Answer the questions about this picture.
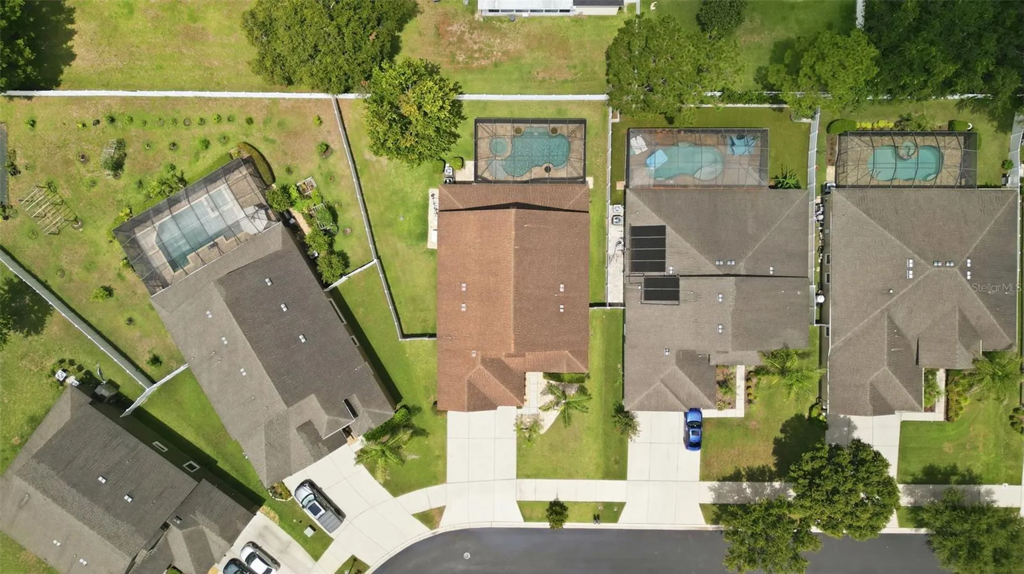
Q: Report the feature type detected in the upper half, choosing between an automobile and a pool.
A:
pool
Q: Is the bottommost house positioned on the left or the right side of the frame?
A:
left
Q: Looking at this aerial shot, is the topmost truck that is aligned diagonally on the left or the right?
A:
left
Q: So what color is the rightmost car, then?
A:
blue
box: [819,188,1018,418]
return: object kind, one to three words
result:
house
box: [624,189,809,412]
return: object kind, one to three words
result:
house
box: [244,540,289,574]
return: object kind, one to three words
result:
car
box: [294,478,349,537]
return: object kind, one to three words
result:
truck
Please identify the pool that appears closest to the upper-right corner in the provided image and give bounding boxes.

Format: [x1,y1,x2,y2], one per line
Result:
[864,138,947,184]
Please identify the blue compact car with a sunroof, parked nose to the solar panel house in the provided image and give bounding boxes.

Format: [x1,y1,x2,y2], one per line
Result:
[680,410,705,452]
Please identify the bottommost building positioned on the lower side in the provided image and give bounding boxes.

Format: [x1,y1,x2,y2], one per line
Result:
[0,386,259,574]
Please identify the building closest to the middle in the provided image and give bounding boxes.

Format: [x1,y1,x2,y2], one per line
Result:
[437,184,589,414]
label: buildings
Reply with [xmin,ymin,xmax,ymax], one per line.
[0,386,259,574]
[437,184,589,414]
[819,188,1018,418]
[153,219,395,491]
[479,0,623,19]
[624,189,809,412]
